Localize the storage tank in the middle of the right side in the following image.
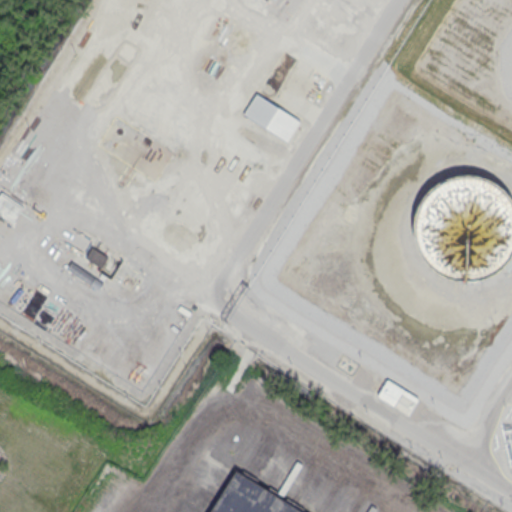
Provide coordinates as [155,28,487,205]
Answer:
[412,176,512,283]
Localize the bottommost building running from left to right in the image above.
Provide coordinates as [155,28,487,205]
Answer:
[215,471,308,512]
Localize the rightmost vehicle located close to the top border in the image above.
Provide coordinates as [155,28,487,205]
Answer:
[131,12,144,29]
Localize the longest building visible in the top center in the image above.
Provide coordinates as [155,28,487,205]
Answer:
[245,94,300,142]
